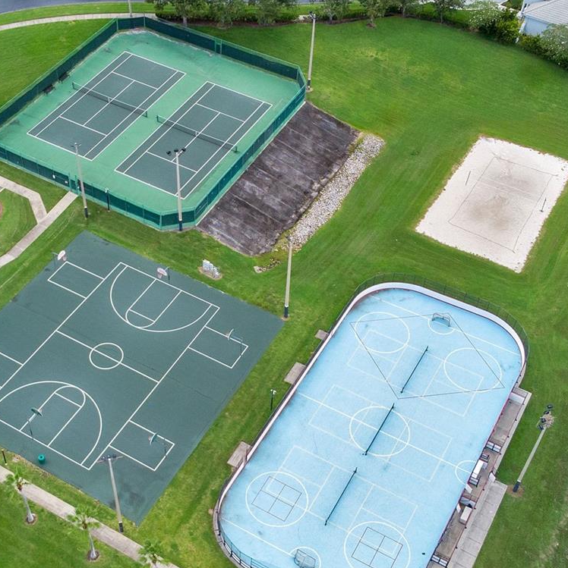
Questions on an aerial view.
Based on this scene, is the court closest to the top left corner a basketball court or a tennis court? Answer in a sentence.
From above, the court closest to the top left corner can be identified as a tennis court.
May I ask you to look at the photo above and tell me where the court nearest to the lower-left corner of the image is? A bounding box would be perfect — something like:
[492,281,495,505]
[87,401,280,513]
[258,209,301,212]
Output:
[0,230,283,525]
